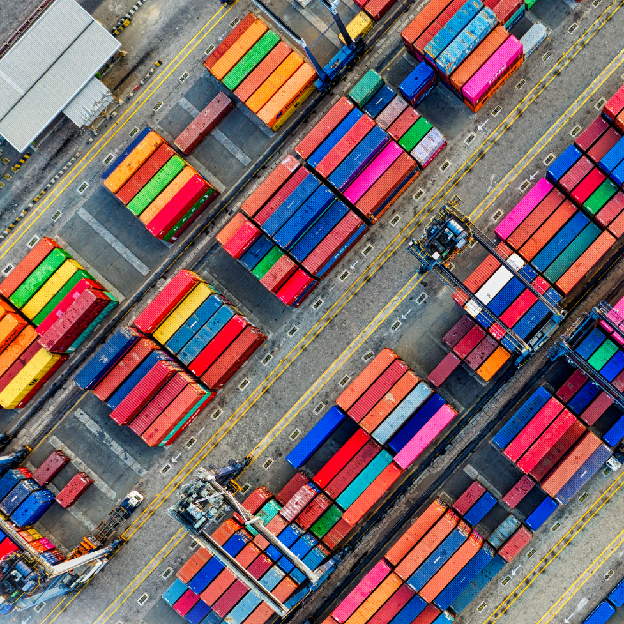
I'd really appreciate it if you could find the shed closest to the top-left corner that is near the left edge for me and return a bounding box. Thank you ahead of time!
[0,0,132,157]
